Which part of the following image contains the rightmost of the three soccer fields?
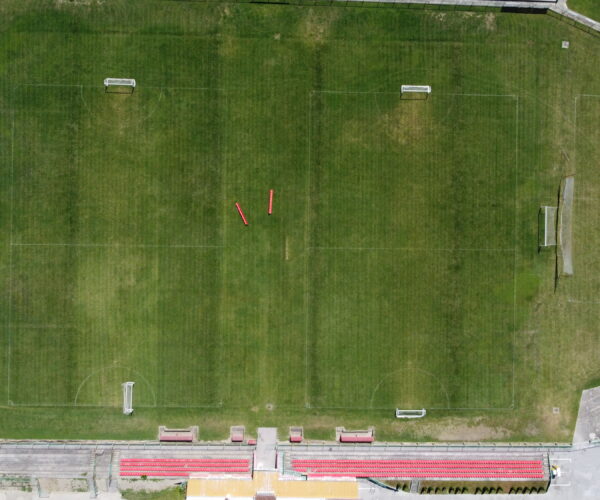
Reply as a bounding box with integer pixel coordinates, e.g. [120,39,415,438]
[573,94,600,304]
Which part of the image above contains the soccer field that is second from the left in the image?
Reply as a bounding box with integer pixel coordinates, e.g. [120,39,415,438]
[305,89,520,411]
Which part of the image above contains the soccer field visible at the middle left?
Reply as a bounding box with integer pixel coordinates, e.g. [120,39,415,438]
[0,83,223,406]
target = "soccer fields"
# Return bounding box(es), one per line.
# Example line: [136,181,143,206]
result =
[0,83,223,406]
[305,89,520,411]
[573,94,600,304]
